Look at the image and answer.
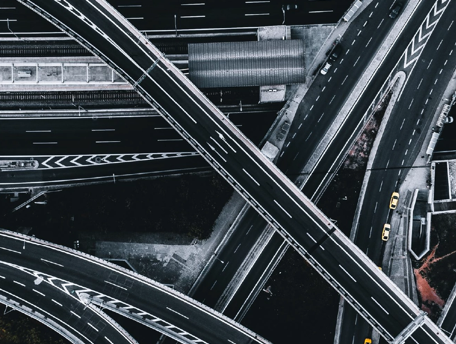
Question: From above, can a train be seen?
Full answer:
No, there appears to be no train in this shot.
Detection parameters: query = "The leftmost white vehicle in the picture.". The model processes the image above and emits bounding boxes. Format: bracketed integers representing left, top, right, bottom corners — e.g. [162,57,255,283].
[320,60,333,76]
